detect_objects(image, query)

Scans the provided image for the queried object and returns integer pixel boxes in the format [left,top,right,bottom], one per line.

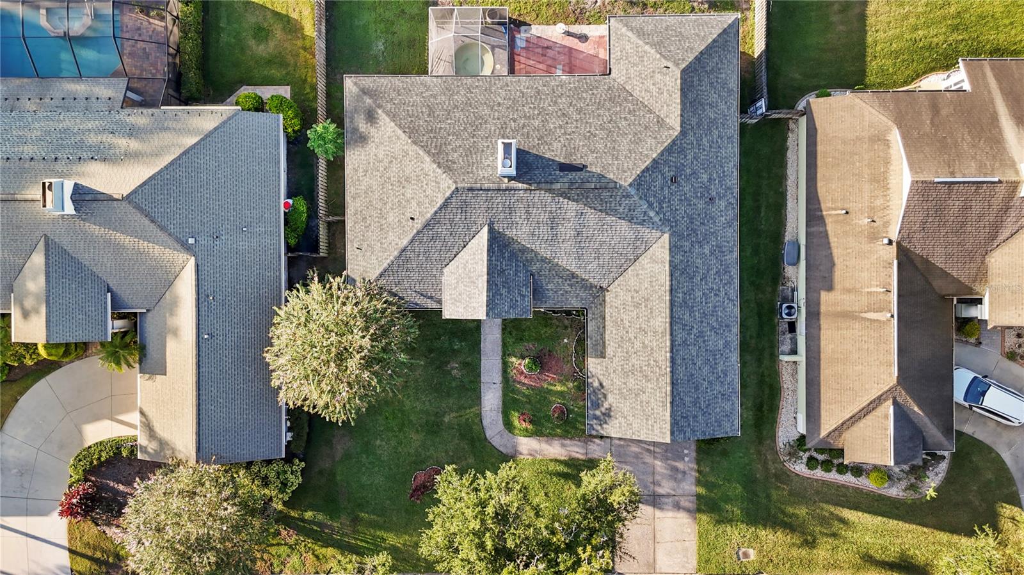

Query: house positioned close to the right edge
[787,56,1024,465]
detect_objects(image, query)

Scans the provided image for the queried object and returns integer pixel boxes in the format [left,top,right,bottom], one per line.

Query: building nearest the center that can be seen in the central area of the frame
[342,13,742,445]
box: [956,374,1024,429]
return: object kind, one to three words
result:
car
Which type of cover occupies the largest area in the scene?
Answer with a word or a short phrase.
buildings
